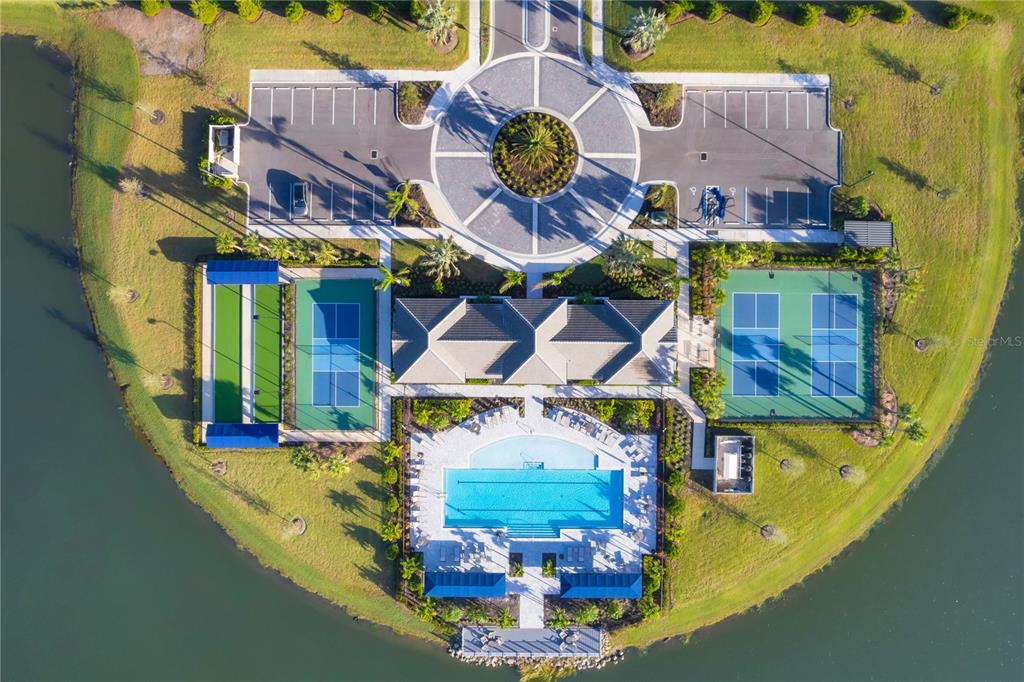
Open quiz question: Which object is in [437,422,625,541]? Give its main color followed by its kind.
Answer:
blue swimming pool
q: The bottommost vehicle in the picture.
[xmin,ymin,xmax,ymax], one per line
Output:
[290,182,309,219]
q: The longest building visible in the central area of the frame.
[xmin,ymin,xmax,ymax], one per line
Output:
[390,294,680,385]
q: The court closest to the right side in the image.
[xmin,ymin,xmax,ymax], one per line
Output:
[796,270,875,421]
